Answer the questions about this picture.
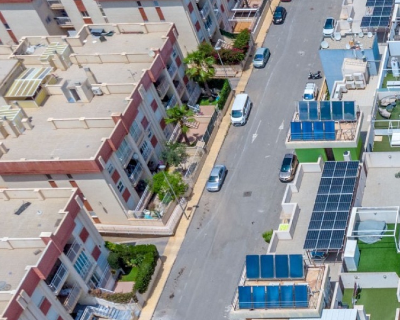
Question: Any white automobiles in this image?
Yes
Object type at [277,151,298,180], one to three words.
car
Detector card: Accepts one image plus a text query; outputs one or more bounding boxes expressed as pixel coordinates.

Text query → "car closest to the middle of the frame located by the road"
[206,162,228,189]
